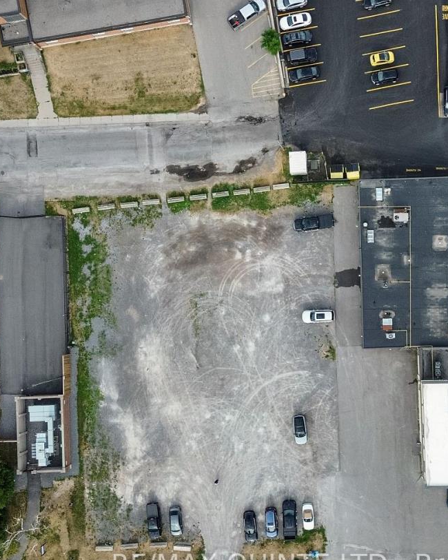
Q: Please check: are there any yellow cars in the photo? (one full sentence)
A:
Yes, a yellow car is visible in the scene.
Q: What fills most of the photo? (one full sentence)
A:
What you mostly see from above here is paved ground.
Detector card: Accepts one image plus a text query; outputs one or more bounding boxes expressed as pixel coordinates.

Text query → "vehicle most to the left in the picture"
[145,501,163,541]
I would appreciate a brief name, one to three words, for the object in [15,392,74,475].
building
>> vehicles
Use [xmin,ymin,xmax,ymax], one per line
[293,213,335,232]
[302,502,316,530]
[281,499,298,540]
[369,50,395,67]
[282,29,313,48]
[302,309,334,324]
[288,65,321,84]
[145,501,163,541]
[284,46,318,66]
[264,505,279,537]
[225,0,268,31]
[168,504,184,536]
[293,414,309,445]
[370,69,400,86]
[279,12,312,31]
[242,508,258,542]
[276,0,308,12]
[362,0,393,11]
